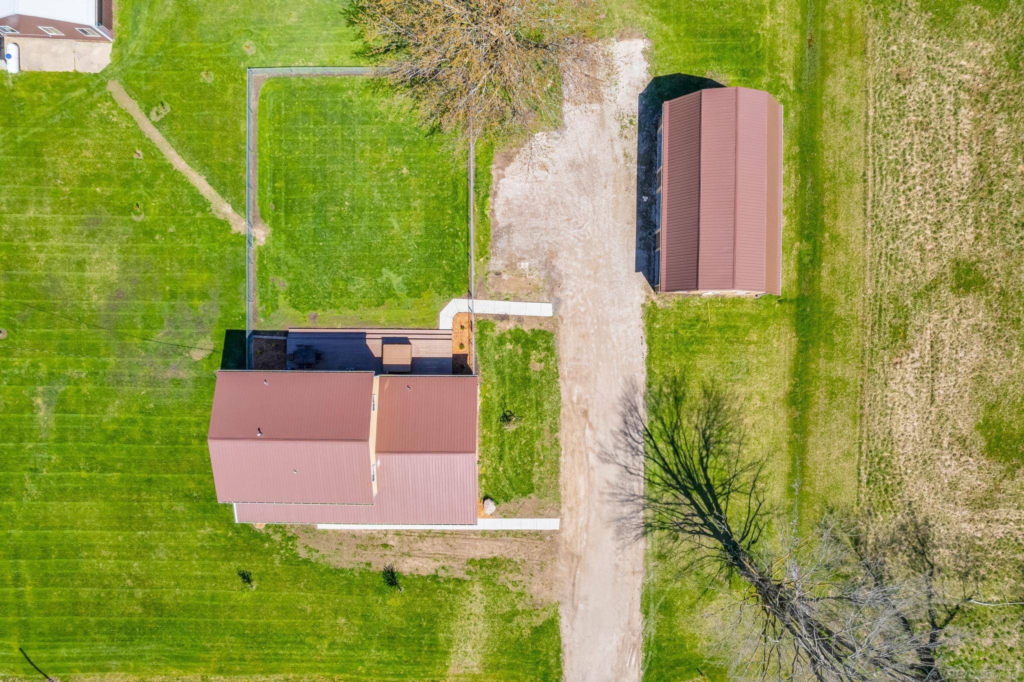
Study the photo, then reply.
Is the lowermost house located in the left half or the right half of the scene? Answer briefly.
left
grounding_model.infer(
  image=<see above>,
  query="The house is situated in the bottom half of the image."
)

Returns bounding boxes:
[207,367,479,527]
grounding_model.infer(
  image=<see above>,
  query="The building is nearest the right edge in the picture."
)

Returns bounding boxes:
[652,85,784,296]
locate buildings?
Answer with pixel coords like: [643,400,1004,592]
[207,367,479,527]
[0,0,113,41]
[652,85,784,296]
